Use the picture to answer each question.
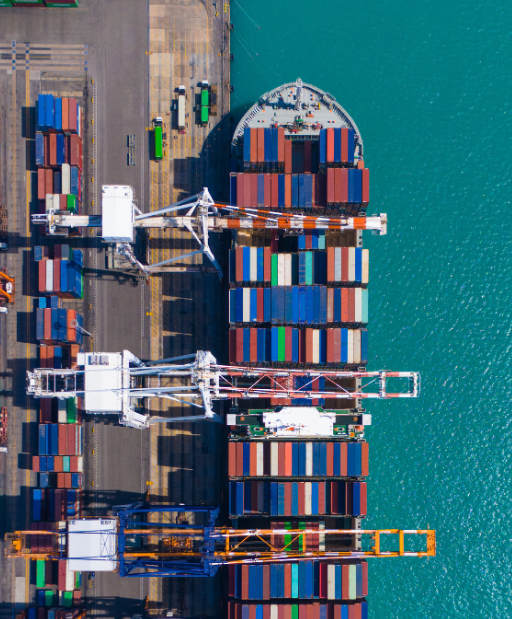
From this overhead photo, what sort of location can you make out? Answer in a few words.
port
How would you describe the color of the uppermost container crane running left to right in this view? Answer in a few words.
white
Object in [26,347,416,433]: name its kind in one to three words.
container crane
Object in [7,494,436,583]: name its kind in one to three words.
container crane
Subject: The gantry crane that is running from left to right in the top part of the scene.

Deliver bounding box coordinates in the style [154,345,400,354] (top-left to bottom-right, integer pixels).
[33,184,387,288]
